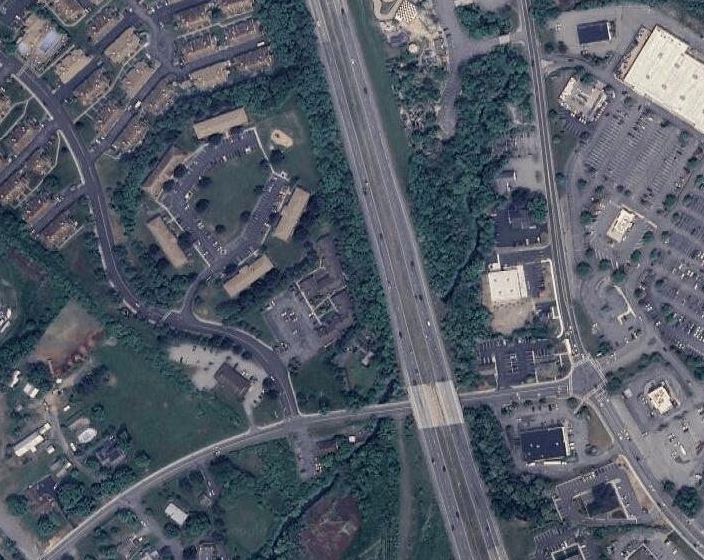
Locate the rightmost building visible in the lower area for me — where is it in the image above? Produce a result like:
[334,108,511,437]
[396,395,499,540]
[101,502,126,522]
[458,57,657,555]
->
[647,383,677,413]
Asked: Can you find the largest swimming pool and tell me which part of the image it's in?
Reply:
top left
